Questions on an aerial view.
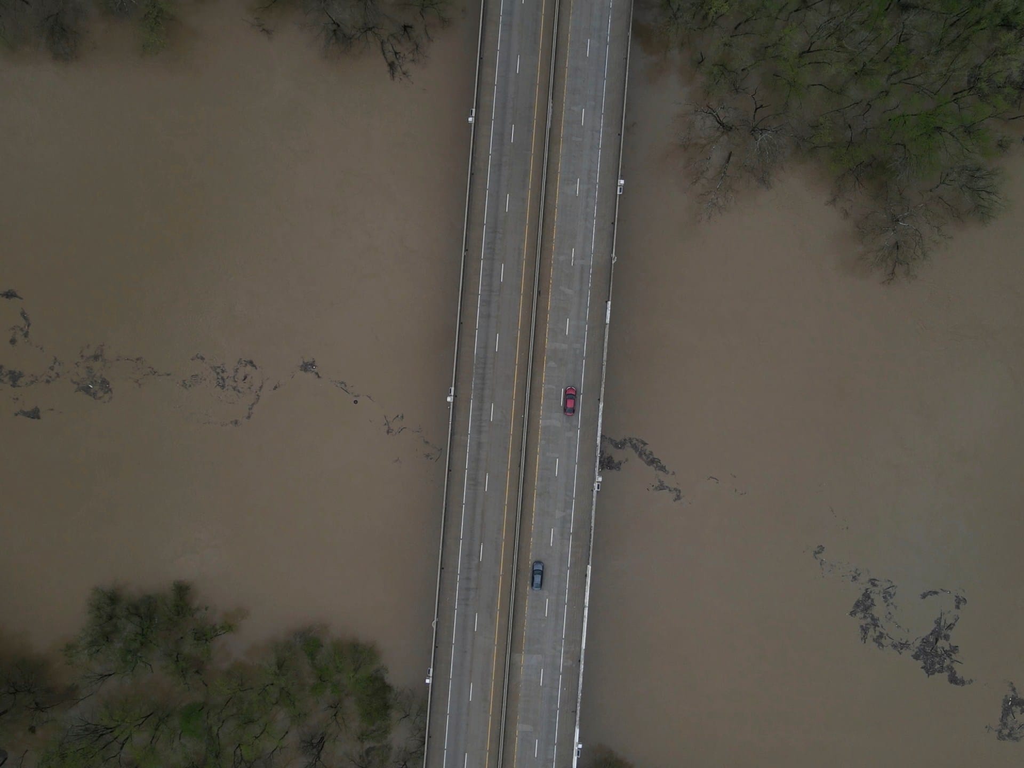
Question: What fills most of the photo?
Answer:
water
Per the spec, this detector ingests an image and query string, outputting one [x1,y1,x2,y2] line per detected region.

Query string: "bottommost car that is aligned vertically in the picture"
[532,562,544,591]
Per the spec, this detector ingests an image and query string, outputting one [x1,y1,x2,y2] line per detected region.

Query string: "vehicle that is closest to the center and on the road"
[564,387,577,415]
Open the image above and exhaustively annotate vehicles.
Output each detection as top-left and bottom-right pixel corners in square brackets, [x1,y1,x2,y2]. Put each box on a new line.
[532,562,544,591]
[564,387,577,415]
